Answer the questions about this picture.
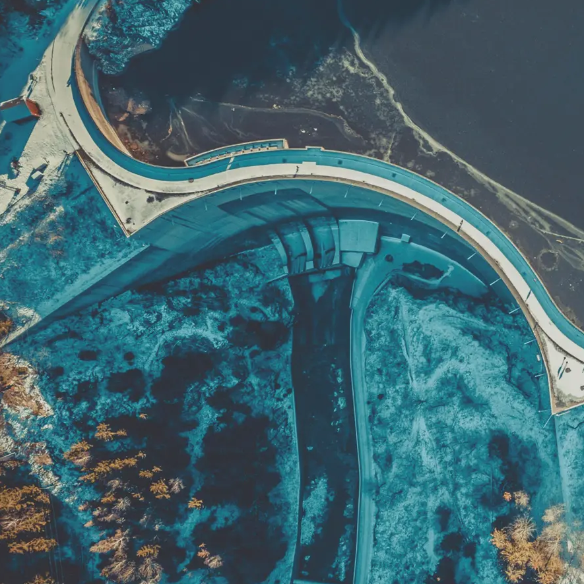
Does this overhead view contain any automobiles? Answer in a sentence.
No, the picture doesn't show any automobile.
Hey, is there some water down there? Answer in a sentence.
Yes, water can be seen from above here.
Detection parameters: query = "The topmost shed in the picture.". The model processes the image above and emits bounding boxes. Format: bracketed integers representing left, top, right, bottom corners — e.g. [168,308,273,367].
[0,98,42,123]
